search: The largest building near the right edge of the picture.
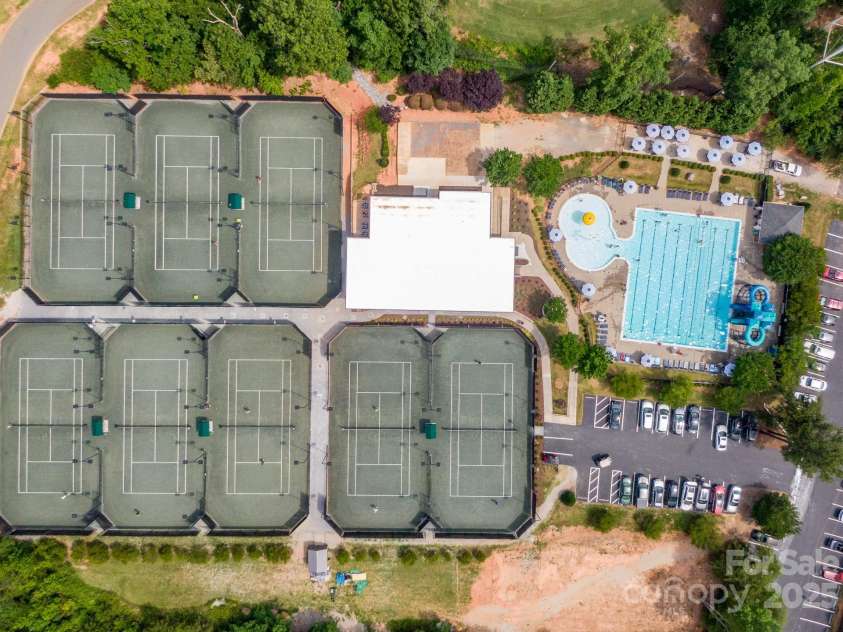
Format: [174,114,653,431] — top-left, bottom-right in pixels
[751,202,804,245]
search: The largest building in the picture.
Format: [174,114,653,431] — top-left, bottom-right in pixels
[347,186,515,311]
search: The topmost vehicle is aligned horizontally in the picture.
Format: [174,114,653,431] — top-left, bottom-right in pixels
[769,160,804,178]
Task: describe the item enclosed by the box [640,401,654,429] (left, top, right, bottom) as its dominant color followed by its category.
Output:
white car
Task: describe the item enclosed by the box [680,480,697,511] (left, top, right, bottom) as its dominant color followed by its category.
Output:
white vehicle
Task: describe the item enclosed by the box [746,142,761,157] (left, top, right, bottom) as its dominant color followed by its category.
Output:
white umbrella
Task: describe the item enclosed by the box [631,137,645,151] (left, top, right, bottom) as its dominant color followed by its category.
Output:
white umbrella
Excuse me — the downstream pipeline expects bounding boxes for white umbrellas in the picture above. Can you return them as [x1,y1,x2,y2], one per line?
[580,282,594,296]
[674,128,689,143]
[719,192,733,206]
[706,148,720,162]
[640,353,654,367]
[645,124,659,139]
[746,142,761,157]
[718,136,733,150]
[605,346,617,358]
[674,144,690,160]
[622,179,637,194]
[730,153,745,168]
[631,137,645,151]
[651,140,666,155]
[548,228,563,242]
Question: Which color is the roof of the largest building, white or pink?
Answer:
white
